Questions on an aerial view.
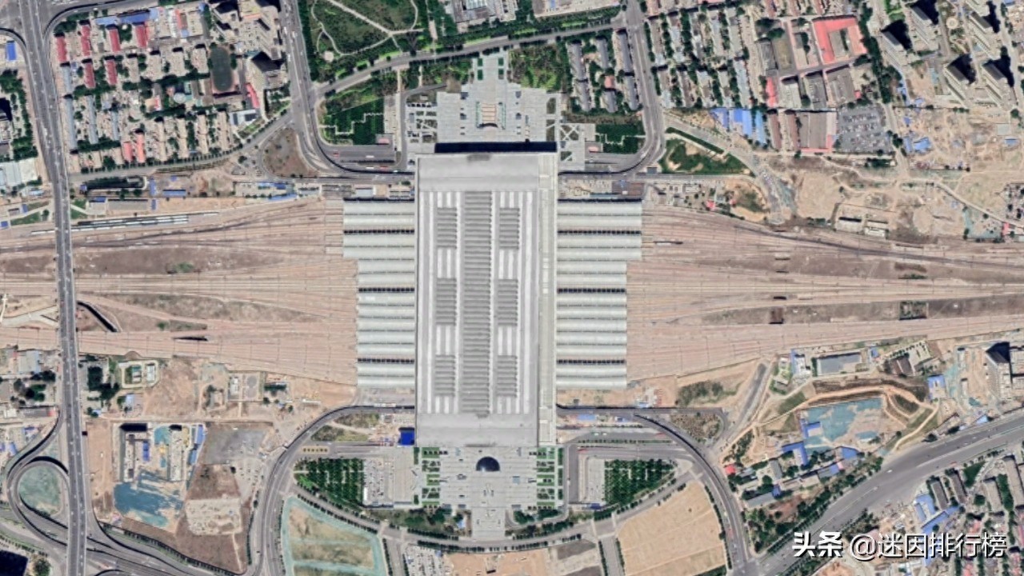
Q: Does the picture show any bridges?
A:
Yes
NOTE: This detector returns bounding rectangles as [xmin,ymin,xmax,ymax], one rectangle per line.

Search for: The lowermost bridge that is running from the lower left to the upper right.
[257,404,413,576]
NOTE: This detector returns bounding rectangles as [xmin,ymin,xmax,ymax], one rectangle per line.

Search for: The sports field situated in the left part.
[210,44,237,97]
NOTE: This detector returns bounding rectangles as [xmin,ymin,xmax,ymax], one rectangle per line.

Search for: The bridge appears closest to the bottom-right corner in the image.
[557,405,755,576]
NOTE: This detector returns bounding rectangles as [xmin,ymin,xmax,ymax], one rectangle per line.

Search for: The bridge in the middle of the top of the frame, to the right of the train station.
[557,120,659,179]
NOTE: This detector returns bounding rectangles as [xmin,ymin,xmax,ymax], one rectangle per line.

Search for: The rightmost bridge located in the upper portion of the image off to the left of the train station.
[308,119,413,179]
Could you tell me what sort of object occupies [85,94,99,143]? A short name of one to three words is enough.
building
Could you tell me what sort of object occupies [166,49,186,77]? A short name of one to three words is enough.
building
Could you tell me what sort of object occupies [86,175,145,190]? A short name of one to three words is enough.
shed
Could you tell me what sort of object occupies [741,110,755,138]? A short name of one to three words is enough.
shed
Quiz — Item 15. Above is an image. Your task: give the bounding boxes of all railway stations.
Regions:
[412,148,557,446]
